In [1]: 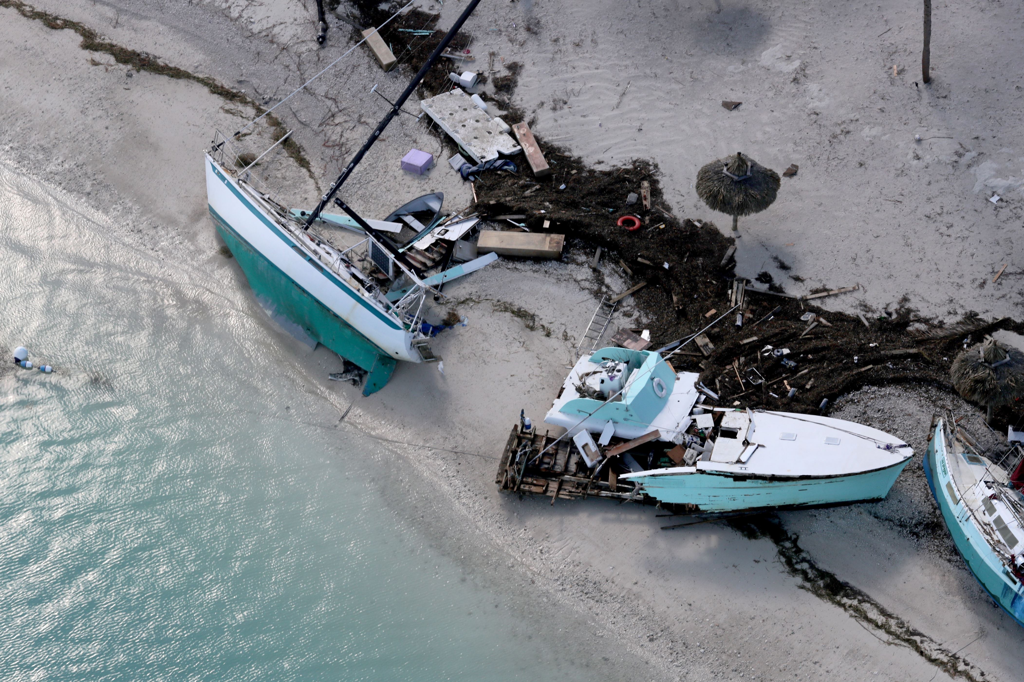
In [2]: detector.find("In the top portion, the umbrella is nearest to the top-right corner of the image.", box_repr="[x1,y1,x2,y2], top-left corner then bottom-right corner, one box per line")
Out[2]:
[694,146,785,238]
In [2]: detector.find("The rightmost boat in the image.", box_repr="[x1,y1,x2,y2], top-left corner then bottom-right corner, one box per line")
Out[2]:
[931,412,1024,643]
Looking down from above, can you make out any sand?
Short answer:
Yes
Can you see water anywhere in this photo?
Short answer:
Yes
